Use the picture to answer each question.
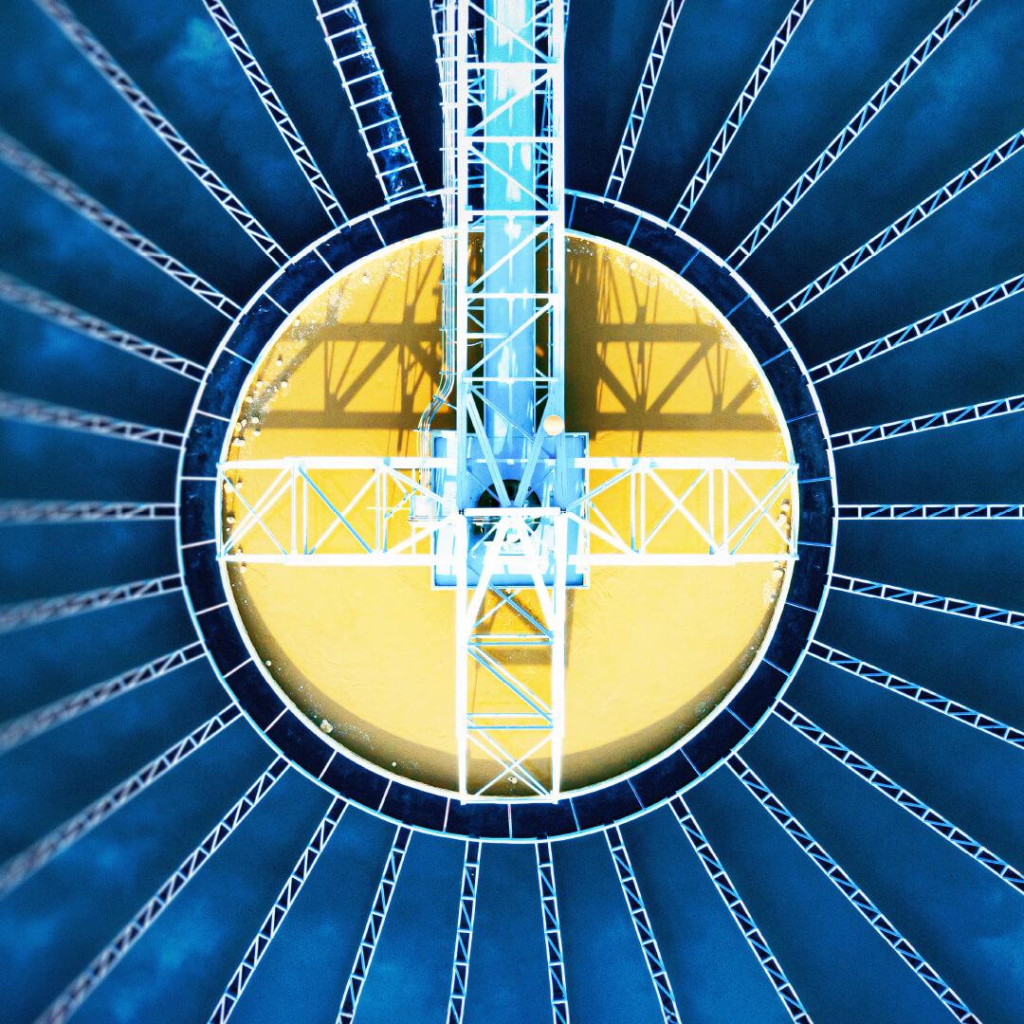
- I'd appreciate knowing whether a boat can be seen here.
No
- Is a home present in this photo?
No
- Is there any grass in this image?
No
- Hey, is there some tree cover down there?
No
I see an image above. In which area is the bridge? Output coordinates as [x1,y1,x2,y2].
[457,0,568,510]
